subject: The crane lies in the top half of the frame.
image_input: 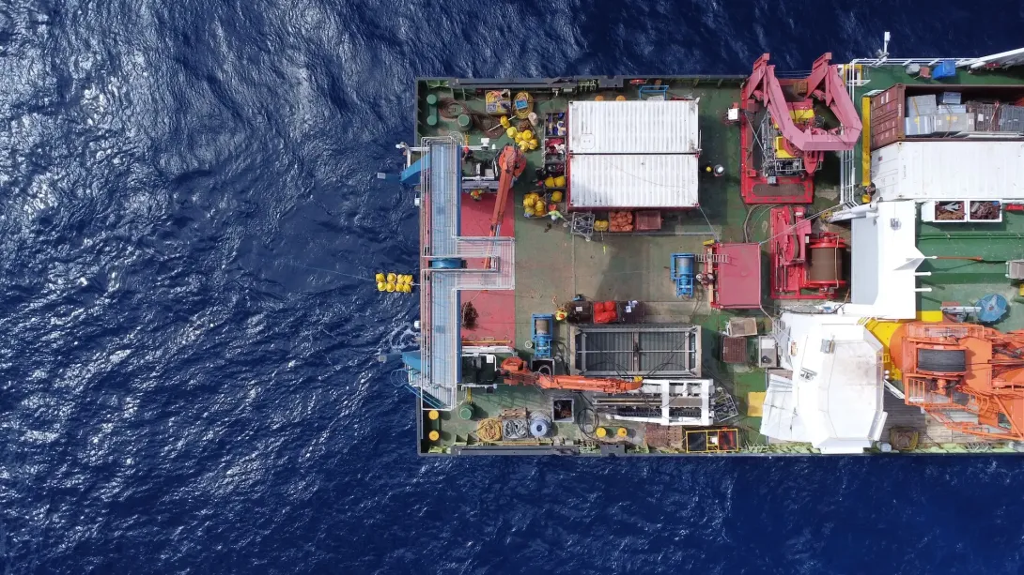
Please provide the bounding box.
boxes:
[482,142,526,270]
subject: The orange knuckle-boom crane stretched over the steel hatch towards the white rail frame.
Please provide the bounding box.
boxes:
[492,356,644,398]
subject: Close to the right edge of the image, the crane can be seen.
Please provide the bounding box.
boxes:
[887,322,1024,442]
